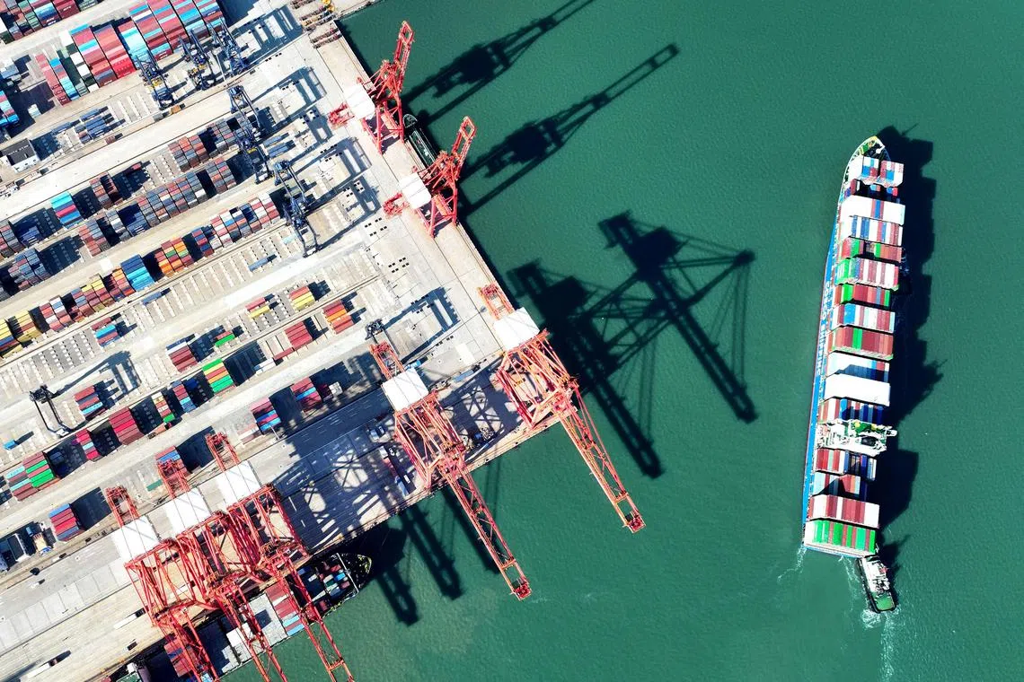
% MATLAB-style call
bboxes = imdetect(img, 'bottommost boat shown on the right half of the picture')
[861,556,895,614]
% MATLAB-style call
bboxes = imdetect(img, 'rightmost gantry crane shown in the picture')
[476,278,648,536]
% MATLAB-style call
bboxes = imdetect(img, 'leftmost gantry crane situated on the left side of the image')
[22,382,75,440]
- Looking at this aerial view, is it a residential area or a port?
port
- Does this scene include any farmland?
No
